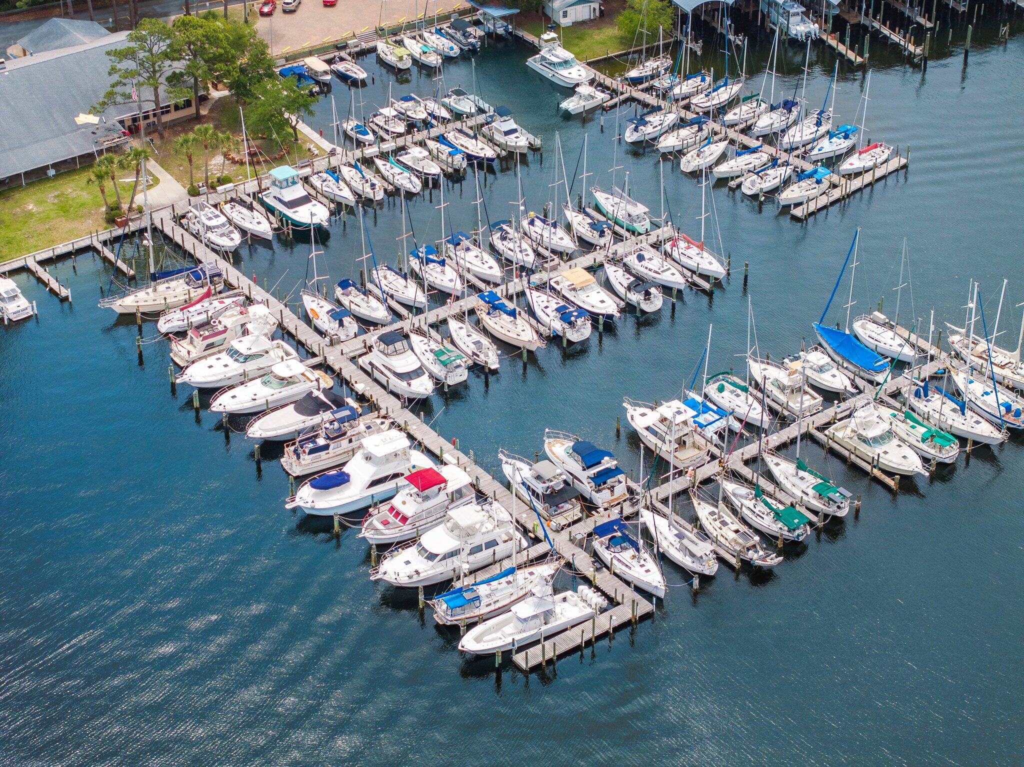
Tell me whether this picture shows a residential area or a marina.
marina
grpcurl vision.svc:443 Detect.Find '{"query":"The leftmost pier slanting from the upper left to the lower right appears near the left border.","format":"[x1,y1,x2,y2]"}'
[27,257,69,302]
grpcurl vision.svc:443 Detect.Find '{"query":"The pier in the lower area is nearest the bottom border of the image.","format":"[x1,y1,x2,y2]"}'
[510,606,642,676]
